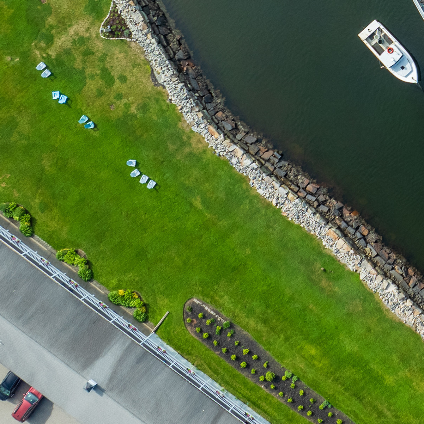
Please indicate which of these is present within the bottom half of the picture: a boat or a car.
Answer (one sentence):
The feature located within the bottom half of the picture is a car.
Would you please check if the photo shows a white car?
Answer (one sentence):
No, no white car is visible in the view.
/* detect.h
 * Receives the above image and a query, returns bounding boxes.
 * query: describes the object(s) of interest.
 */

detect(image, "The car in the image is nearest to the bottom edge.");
[12,388,43,422]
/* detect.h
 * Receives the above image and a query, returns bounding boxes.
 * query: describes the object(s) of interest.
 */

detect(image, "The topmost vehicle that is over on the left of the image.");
[0,371,21,401]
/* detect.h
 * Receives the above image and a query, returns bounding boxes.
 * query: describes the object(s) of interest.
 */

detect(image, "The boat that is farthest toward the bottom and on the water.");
[359,19,421,85]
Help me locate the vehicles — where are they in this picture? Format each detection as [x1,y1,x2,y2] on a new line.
[0,371,21,401]
[12,388,43,422]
